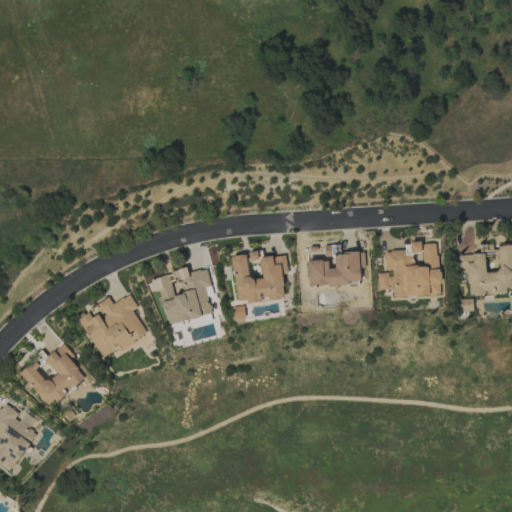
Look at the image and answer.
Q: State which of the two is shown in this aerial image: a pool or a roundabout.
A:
pool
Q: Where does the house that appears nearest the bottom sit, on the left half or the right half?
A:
left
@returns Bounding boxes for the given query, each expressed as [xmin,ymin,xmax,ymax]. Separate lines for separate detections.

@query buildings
[79,295,150,358]
[232,249,288,302]
[0,396,41,472]
[461,243,512,302]
[460,298,474,318]
[161,268,214,324]
[308,244,366,286]
[20,344,86,400]
[378,242,443,301]
[234,304,246,322]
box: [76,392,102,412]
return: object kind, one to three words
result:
swimming pool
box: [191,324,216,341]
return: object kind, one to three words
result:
swimming pool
